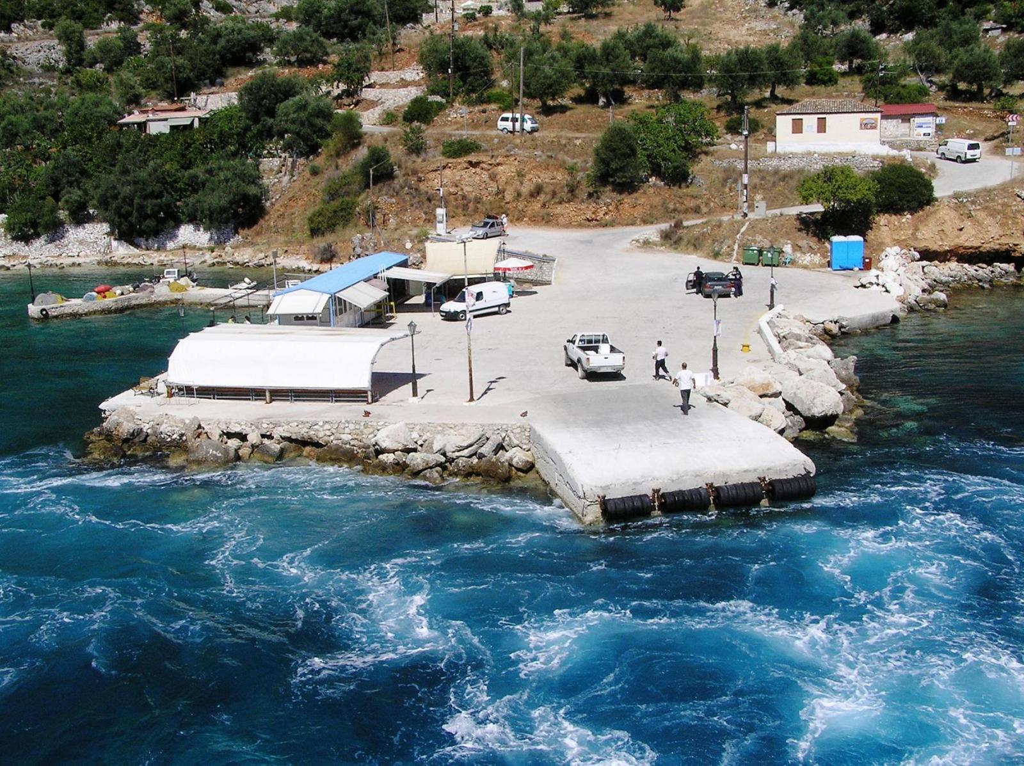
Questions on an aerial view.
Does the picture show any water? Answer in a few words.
Yes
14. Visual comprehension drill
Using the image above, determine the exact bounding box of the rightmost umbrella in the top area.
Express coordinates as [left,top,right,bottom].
[497,250,536,285]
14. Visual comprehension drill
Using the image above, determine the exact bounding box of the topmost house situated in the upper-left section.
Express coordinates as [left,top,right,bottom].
[118,100,211,135]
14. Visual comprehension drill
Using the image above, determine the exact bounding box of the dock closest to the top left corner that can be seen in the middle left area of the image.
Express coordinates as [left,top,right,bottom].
[28,284,289,326]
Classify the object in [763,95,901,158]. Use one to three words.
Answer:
house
